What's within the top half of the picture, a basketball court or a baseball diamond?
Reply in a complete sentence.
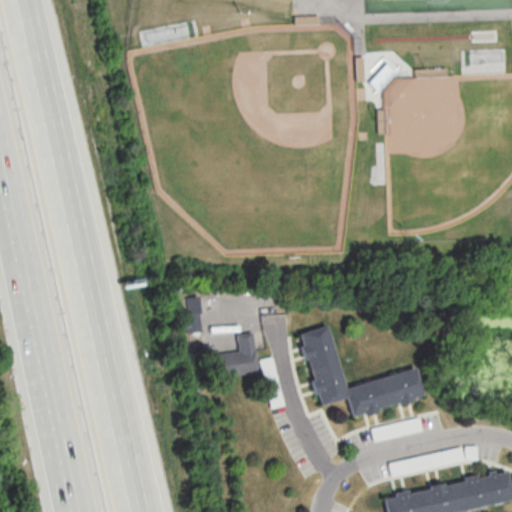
You can see a baseball diamond within the top half of the picture.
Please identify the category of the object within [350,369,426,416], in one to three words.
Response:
building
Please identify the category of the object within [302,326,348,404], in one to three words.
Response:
building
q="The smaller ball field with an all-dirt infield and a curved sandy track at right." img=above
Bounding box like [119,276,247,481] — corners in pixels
[384,74,512,236]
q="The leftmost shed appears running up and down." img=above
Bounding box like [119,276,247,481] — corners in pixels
[186,298,202,333]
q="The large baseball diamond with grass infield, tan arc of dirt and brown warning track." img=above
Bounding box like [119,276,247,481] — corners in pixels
[127,22,357,256]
